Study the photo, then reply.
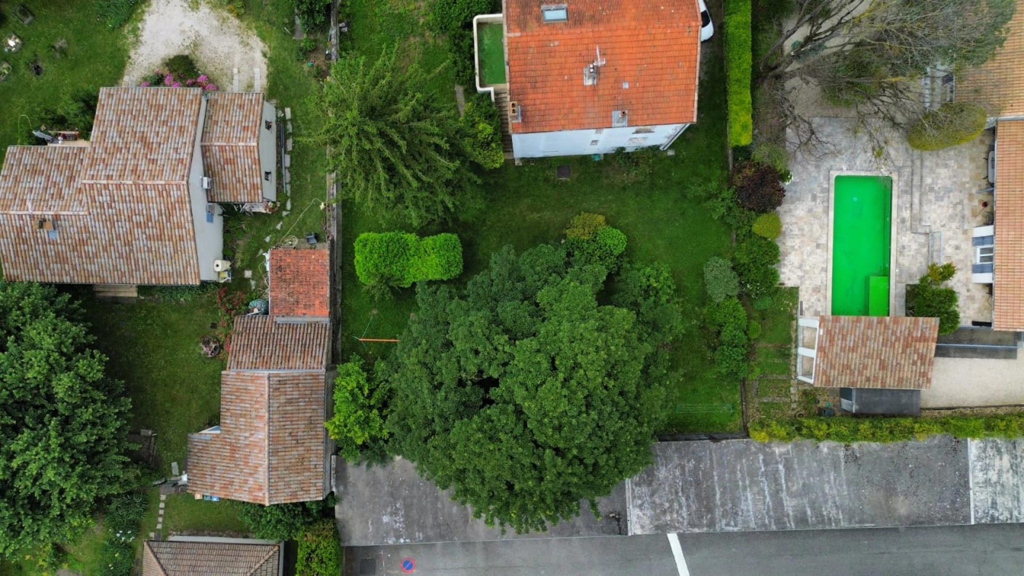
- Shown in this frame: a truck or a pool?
pool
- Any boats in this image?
No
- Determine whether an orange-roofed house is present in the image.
Yes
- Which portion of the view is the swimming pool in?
right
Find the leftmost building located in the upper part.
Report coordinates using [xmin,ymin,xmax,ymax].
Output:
[0,85,216,299]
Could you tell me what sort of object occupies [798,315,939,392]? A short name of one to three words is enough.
building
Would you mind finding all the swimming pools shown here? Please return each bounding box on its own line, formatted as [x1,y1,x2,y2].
[828,171,898,317]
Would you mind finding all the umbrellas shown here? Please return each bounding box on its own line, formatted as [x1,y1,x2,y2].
[251,298,268,315]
